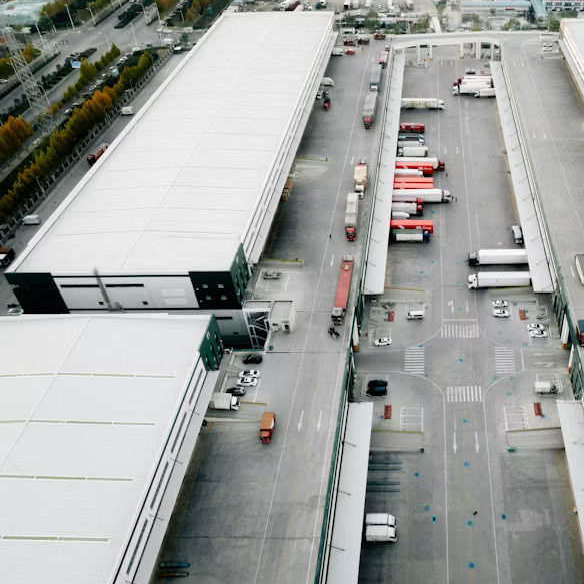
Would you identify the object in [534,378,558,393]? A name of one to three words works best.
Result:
vehicle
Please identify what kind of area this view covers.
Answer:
industrial area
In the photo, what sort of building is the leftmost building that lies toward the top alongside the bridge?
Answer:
warehouse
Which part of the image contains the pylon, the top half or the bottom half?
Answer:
top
